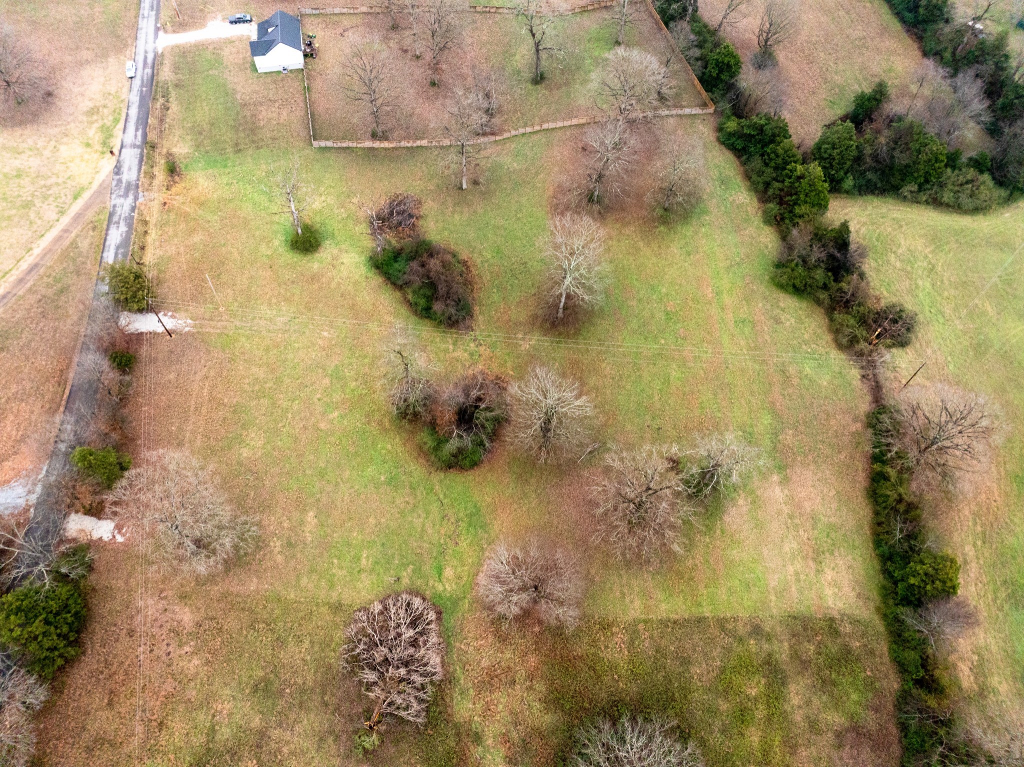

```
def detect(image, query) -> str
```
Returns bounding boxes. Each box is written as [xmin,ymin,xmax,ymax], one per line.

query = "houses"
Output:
[249,8,303,72]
